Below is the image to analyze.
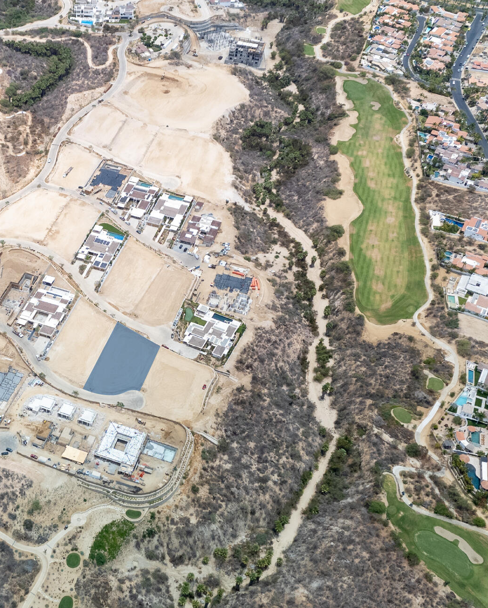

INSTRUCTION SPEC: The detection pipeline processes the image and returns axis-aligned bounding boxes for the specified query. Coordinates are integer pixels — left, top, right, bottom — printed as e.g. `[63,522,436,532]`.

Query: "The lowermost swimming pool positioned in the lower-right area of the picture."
[465,461,486,489]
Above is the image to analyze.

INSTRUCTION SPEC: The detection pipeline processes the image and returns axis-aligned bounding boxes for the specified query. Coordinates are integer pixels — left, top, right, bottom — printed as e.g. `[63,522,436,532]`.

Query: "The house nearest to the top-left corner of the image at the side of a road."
[74,0,106,28]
